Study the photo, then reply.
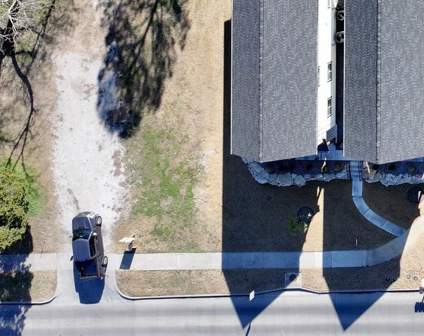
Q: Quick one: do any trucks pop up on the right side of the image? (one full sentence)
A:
No, there is no truck on the right side of the image.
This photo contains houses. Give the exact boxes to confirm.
[230,0,337,162]
[343,0,424,165]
